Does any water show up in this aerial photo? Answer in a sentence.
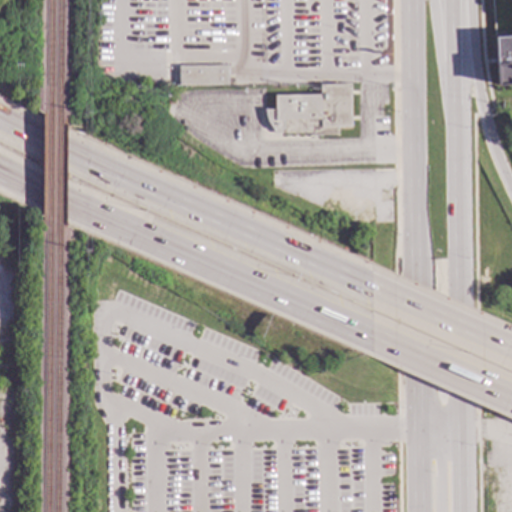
No, the picture contains no water.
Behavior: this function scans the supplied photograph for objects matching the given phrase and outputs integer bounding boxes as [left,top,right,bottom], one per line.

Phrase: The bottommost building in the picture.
[268,83,354,134]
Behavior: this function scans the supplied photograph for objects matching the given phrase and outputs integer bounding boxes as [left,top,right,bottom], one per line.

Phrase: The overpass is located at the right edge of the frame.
[370,262,512,420]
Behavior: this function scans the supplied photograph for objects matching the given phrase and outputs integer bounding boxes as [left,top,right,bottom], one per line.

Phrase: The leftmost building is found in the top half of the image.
[181,64,231,84]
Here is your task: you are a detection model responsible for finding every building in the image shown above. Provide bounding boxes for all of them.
[181,64,231,84]
[498,34,512,83]
[268,83,354,134]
